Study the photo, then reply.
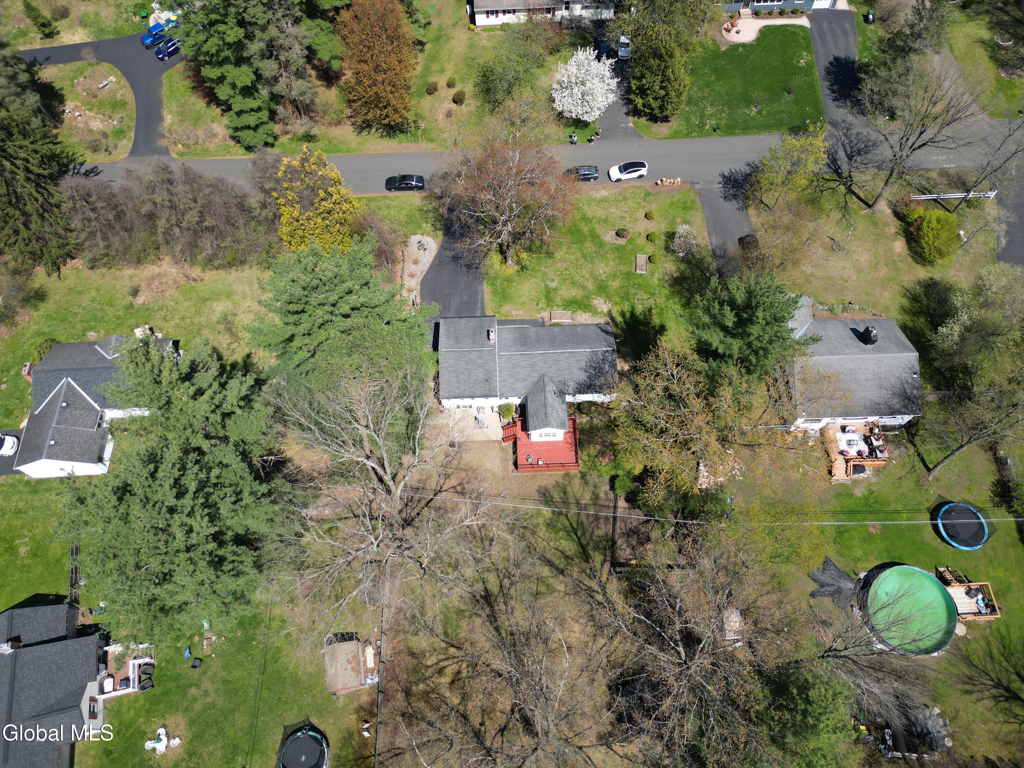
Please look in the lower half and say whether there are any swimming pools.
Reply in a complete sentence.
Yes, the scene does show a swimming pool in the lower half.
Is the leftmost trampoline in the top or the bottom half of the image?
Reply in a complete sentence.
The leftmost trampoline sits in the bottom half of the picture.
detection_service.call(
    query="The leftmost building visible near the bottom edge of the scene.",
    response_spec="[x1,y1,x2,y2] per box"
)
[0,604,108,768]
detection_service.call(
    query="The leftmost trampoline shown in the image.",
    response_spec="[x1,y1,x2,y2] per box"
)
[266,722,332,768]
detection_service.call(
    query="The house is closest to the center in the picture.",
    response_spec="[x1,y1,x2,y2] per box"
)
[439,316,619,437]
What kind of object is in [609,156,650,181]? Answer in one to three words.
car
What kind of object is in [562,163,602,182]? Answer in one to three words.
car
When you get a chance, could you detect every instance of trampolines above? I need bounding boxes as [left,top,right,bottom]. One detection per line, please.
[933,493,1005,554]
[266,722,332,768]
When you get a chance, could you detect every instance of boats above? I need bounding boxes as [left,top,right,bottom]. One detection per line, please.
[13,414,29,434]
